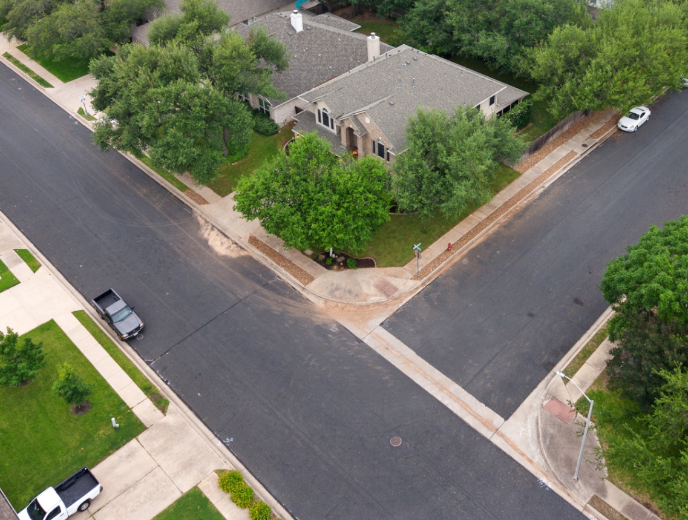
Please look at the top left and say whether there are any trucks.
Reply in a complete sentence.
No, looking at the top left, there is no truck.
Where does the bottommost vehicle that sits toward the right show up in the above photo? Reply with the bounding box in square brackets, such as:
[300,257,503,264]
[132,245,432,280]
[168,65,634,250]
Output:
[619,107,655,136]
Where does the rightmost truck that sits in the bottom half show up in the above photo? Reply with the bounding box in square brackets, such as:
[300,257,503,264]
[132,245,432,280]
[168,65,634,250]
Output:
[91,285,152,343]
